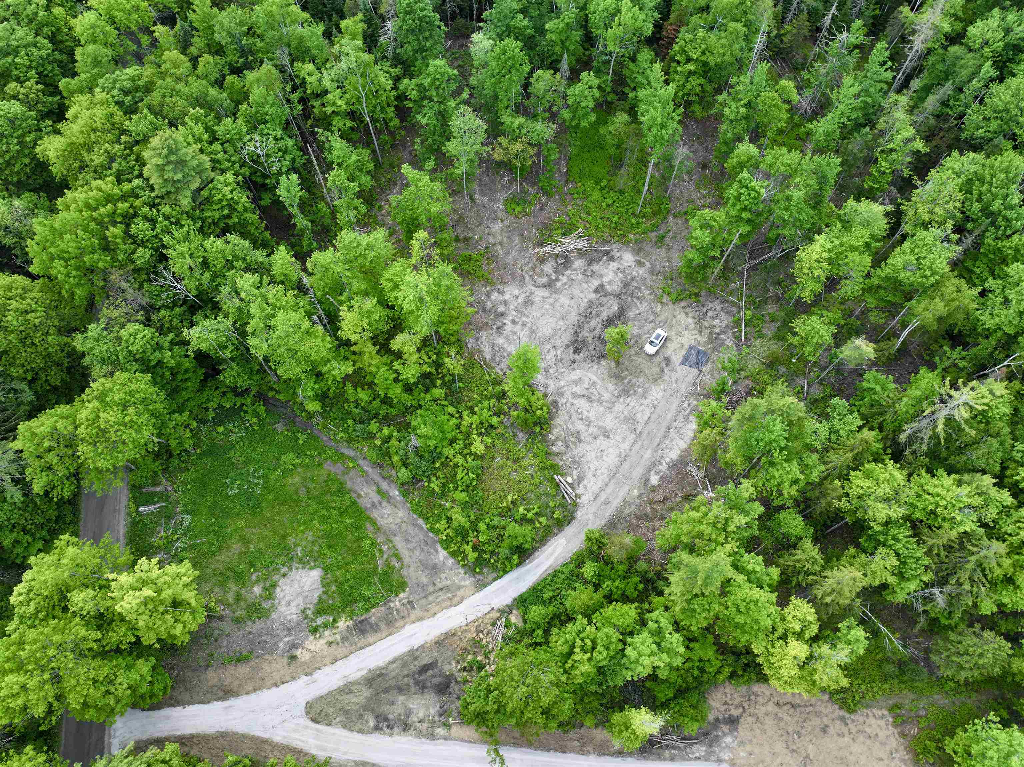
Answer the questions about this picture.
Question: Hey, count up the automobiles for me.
1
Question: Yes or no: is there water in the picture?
No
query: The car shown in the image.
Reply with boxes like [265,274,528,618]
[644,326,667,357]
